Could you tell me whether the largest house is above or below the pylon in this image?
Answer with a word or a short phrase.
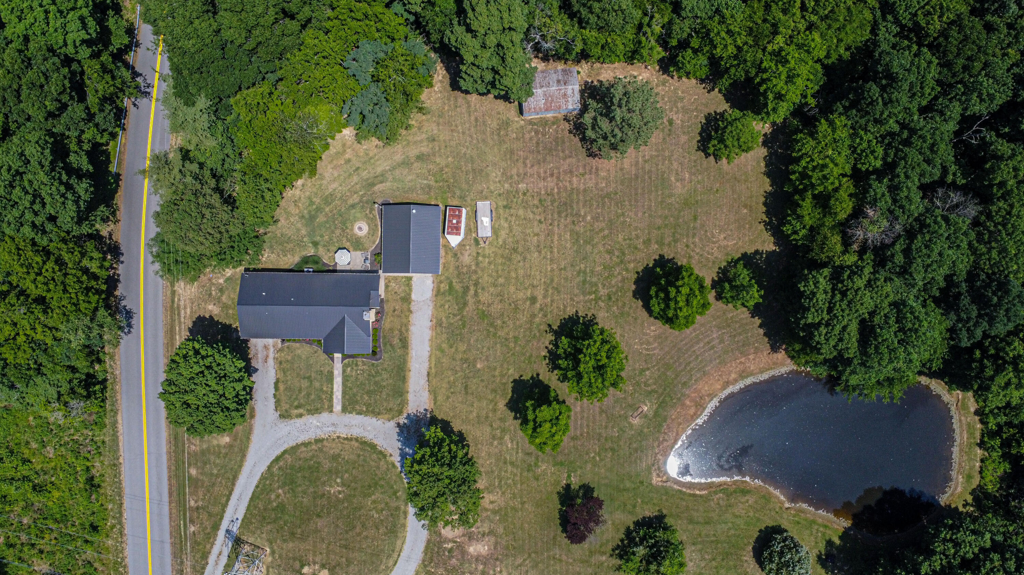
above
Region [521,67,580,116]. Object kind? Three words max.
shed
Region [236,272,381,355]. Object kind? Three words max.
house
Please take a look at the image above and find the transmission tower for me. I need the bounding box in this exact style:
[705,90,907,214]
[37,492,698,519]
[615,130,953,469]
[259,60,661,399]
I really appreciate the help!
[219,547,267,575]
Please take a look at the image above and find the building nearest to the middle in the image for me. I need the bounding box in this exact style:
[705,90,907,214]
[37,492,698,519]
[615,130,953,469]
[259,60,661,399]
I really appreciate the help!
[381,204,442,275]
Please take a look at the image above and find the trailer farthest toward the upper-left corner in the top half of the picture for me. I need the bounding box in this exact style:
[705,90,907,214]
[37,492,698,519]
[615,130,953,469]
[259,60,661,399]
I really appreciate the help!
[445,205,465,252]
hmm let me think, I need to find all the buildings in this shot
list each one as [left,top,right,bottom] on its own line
[521,67,580,116]
[236,272,381,355]
[381,204,442,275]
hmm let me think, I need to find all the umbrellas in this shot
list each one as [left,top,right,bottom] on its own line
[335,248,351,264]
